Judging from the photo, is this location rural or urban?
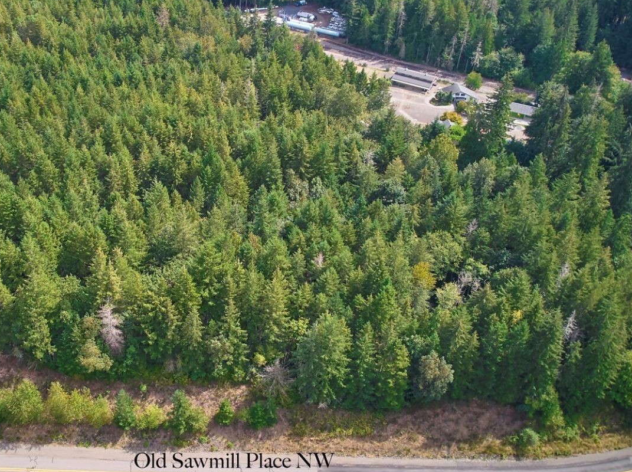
rural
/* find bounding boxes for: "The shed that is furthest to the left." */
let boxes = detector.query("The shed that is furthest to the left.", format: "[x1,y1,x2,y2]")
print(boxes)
[387,63,442,99]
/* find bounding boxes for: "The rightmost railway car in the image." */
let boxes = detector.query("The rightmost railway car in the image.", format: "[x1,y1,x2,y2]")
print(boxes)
[315,25,344,41]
